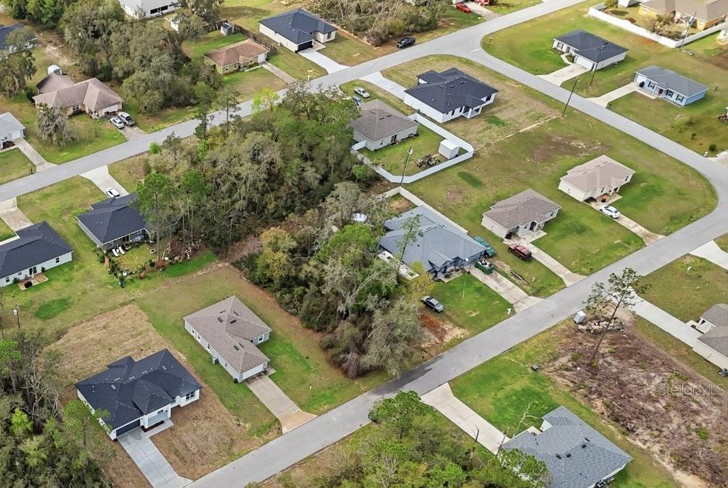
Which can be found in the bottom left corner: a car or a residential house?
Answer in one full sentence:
You can see a residential house in the bottom left corner.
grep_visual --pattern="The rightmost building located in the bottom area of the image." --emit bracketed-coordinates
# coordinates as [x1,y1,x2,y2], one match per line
[694,303,728,368]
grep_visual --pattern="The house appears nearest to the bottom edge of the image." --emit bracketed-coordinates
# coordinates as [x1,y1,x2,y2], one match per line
[502,405,632,488]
